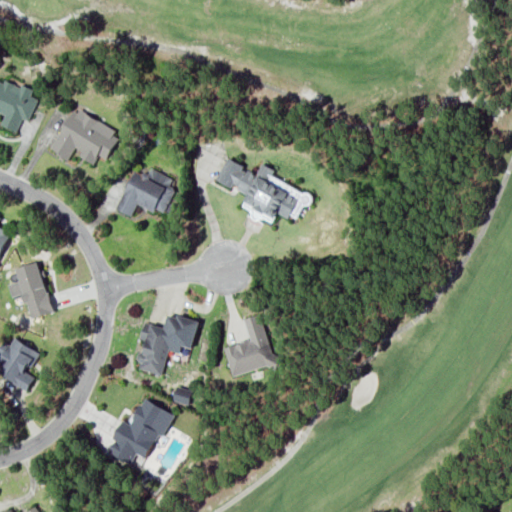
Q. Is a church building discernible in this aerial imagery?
No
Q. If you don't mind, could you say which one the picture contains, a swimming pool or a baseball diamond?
swimming pool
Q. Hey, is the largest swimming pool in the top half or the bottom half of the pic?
bottom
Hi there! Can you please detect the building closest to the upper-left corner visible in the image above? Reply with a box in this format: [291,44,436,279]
[0,80,38,132]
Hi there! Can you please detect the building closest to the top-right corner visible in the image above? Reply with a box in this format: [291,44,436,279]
[216,158,314,224]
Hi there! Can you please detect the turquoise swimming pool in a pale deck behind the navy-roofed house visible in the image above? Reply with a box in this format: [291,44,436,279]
[144,428,192,483]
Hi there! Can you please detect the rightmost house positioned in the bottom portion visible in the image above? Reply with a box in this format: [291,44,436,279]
[226,316,278,375]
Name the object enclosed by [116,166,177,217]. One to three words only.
house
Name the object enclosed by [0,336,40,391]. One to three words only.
house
